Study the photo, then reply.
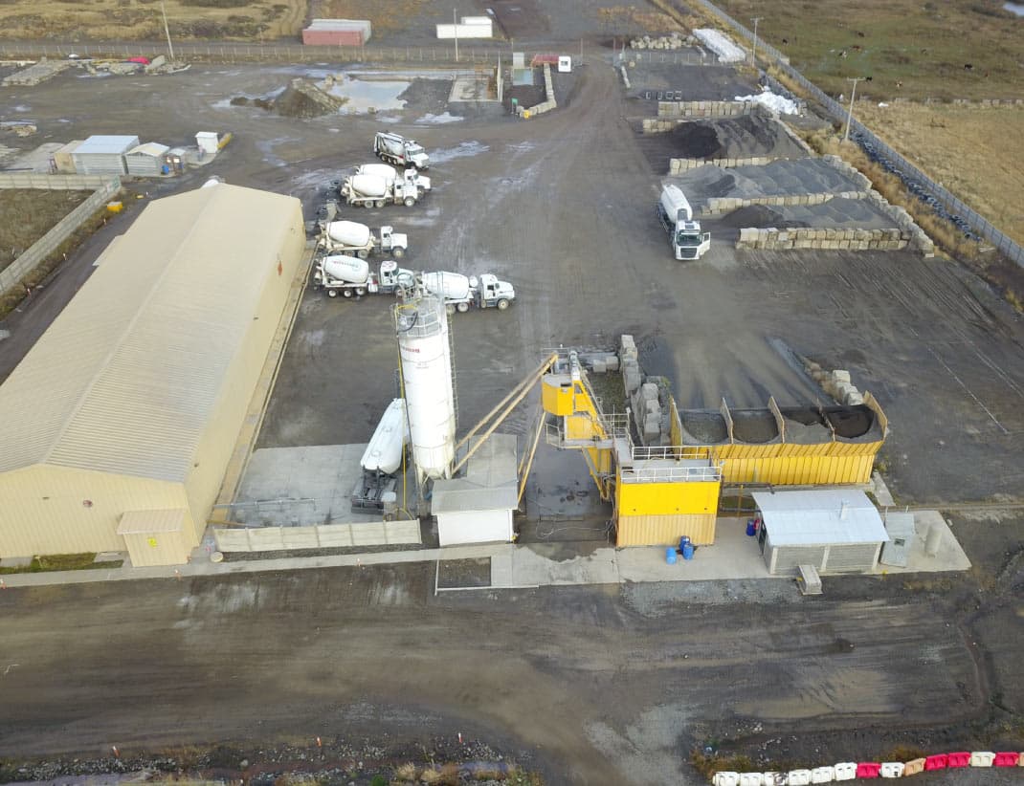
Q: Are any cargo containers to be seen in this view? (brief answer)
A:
Yes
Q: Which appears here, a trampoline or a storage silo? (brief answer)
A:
storage silo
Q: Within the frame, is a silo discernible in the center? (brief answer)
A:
Yes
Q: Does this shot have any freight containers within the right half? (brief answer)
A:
Yes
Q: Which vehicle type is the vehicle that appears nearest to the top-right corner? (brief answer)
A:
truck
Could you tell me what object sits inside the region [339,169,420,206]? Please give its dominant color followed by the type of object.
white truck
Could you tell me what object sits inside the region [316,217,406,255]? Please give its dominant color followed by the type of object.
white truck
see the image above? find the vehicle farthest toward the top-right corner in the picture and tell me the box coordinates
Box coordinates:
[654,183,713,256]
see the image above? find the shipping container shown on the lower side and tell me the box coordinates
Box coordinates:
[616,511,718,545]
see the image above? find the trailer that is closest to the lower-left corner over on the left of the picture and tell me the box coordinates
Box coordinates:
[350,393,412,510]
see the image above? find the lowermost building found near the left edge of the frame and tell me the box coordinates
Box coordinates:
[0,184,306,566]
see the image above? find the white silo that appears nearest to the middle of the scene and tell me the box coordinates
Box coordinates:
[395,287,466,509]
